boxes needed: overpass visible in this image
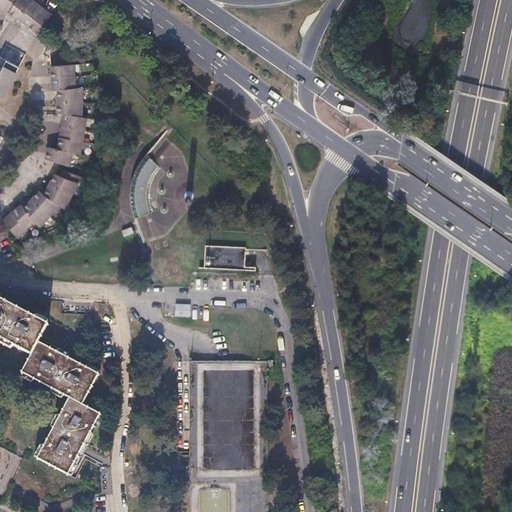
[396,128,512,276]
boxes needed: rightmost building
[199,246,266,272]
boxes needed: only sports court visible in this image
[197,362,260,477]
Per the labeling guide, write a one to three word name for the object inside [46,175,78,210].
house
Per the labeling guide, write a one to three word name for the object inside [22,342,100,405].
building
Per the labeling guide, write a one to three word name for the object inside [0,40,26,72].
swimming pool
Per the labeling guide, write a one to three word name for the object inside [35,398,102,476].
building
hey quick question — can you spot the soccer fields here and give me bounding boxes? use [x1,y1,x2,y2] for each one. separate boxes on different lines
[191,483,236,512]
